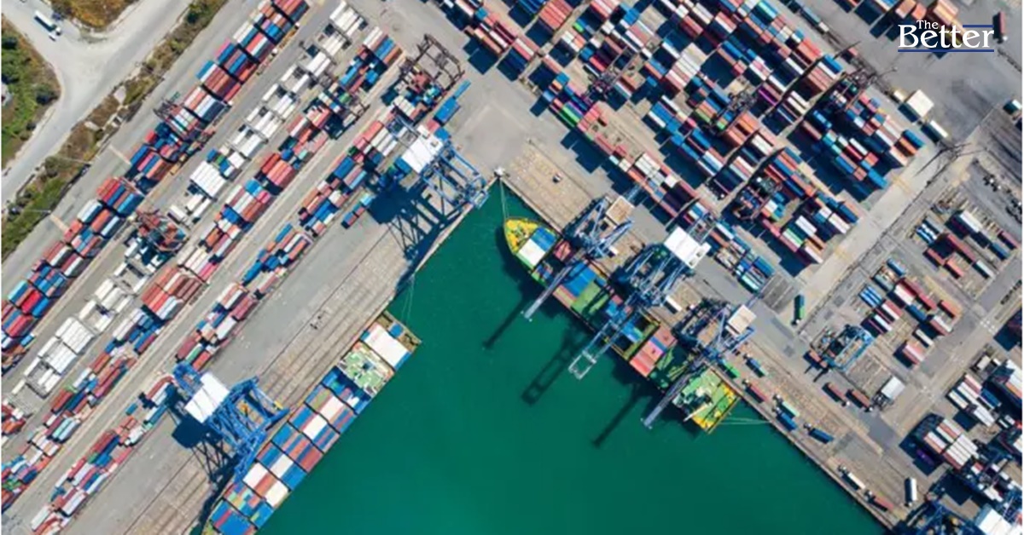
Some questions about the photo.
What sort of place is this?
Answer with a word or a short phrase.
port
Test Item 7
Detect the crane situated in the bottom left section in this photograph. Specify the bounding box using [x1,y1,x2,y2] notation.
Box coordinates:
[176,372,292,498]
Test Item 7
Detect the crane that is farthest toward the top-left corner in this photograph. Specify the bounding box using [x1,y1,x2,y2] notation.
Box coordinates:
[157,97,224,153]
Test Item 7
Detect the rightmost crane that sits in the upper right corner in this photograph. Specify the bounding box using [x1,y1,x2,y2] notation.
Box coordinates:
[809,63,877,125]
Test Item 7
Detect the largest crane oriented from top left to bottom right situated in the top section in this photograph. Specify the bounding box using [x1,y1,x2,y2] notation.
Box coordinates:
[387,134,485,225]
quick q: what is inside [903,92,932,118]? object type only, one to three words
shed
